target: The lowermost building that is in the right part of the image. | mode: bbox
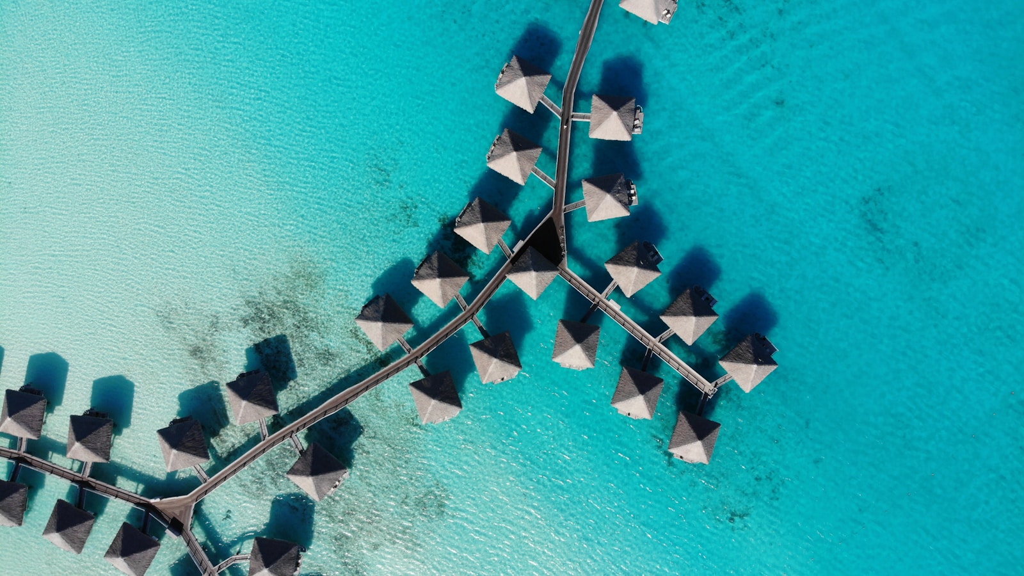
[668,411,721,464]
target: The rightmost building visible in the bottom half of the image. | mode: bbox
[718,332,778,393]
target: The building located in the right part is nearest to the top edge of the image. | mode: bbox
[619,0,680,34]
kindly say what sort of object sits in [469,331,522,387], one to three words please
house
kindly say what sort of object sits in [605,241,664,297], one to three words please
house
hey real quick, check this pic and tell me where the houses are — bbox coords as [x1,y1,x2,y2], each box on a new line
[104,523,162,576]
[410,370,462,425]
[495,55,553,113]
[660,286,719,346]
[41,499,99,553]
[248,537,307,576]
[287,442,349,502]
[0,479,35,525]
[718,332,778,393]
[552,319,601,371]
[355,293,413,351]
[589,94,644,142]
[226,365,279,425]
[454,197,512,254]
[611,365,665,419]
[668,411,721,464]
[605,241,664,297]
[0,385,54,439]
[157,411,210,472]
[582,173,639,222]
[619,0,680,34]
[469,331,522,387]
[66,406,117,462]
[486,128,543,184]
[411,251,469,308]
